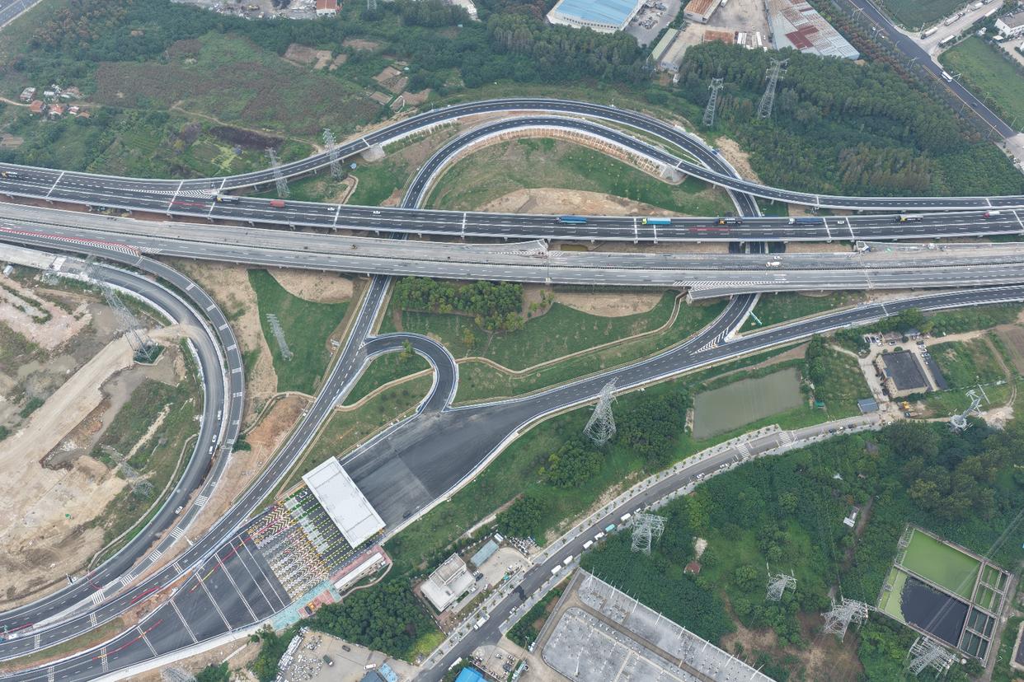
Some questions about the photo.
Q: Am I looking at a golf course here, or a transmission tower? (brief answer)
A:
transmission tower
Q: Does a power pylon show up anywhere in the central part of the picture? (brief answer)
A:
Yes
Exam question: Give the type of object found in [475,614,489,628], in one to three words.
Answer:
vehicle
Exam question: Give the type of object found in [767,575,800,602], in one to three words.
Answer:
pylon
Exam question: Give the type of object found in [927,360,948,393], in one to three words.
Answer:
shed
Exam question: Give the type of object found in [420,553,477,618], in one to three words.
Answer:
building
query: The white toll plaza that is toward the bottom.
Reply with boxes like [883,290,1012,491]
[243,458,395,605]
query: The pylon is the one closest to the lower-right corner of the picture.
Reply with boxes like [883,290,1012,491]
[903,639,962,679]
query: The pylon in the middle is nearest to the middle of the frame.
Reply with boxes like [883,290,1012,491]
[583,378,616,448]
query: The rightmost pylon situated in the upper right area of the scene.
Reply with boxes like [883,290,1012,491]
[760,63,786,105]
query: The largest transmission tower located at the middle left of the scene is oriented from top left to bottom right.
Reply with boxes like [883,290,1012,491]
[89,262,162,363]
